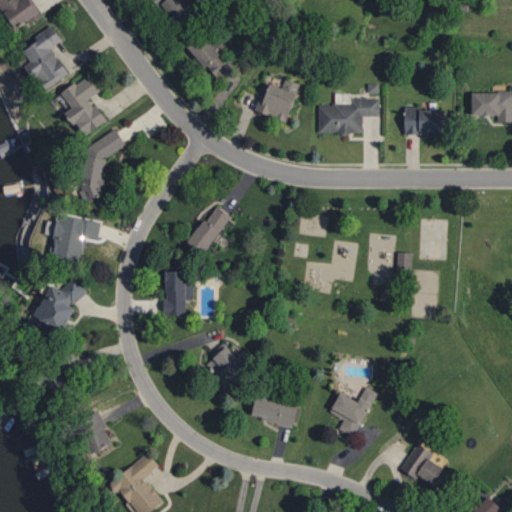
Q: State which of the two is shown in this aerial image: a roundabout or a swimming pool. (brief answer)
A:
swimming pool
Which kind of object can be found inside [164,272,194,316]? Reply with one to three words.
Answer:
house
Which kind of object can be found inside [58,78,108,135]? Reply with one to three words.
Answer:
house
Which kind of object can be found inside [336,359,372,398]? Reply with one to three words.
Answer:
swimming pool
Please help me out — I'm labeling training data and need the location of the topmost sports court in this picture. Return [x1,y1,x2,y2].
[420,219,448,262]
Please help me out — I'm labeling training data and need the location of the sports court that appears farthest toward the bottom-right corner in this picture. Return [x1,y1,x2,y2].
[412,270,439,319]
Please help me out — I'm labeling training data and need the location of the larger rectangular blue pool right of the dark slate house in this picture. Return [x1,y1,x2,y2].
[195,278,219,320]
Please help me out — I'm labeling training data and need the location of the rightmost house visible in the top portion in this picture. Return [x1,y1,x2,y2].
[472,84,512,123]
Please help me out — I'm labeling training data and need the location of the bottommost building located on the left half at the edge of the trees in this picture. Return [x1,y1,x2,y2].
[108,455,164,512]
